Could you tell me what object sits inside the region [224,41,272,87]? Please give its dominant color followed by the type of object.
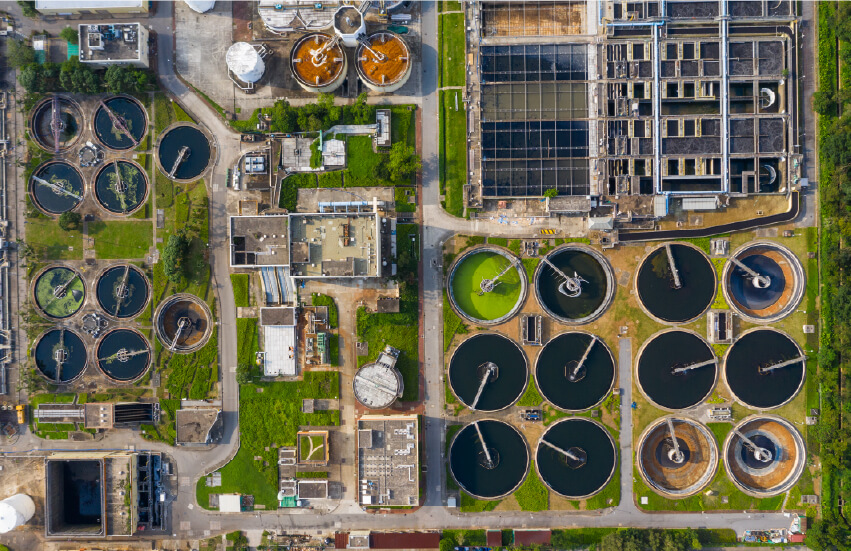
white storage tank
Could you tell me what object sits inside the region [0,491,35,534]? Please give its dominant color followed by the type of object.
white storage tank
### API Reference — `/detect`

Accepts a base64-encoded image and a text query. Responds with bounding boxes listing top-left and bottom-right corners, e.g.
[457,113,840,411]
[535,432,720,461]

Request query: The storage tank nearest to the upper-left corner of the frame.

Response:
[30,95,86,152]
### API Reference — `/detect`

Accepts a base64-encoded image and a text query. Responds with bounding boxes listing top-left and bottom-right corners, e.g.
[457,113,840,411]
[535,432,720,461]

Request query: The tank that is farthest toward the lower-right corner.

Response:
[721,412,807,498]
